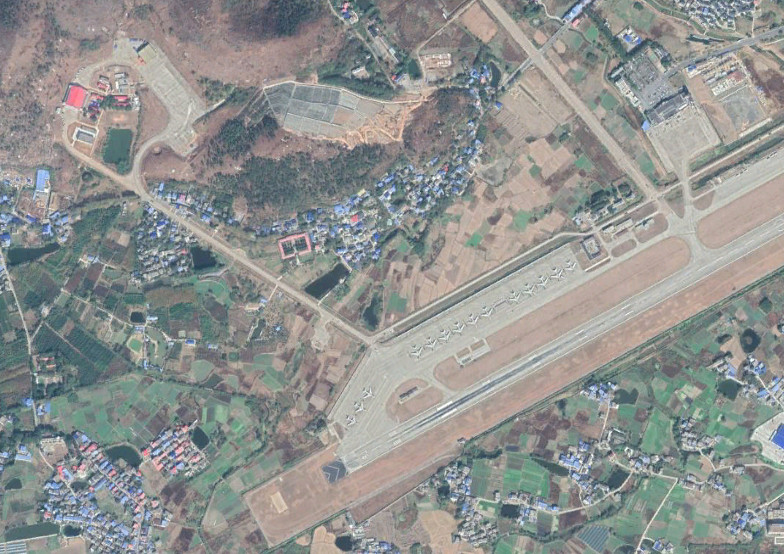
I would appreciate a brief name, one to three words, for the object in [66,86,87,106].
building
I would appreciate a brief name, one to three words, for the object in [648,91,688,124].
building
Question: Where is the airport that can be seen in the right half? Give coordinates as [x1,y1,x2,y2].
[243,105,784,548]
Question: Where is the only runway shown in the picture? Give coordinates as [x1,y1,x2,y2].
[339,212,784,474]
